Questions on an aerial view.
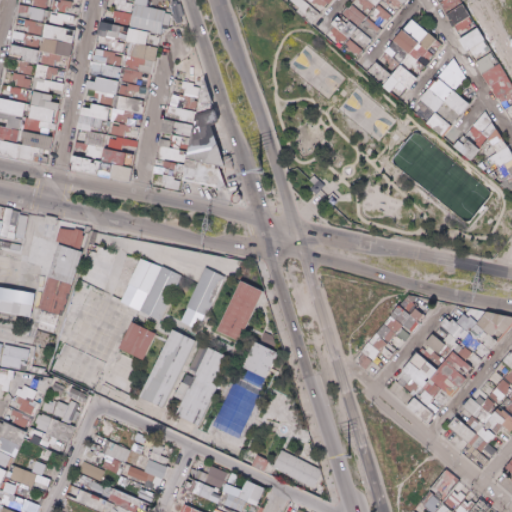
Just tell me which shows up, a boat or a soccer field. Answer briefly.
soccer field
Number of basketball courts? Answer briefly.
2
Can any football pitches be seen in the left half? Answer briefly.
No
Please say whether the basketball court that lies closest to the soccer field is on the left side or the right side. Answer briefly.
right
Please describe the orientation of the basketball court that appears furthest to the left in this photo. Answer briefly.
at an angle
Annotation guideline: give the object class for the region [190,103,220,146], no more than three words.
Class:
building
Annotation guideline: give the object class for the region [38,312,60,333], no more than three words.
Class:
house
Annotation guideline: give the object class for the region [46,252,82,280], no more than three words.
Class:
building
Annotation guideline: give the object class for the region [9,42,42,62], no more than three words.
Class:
house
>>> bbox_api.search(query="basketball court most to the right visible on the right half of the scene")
[340,88,397,140]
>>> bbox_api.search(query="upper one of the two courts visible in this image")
[290,46,346,98]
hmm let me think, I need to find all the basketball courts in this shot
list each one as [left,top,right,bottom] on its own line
[340,88,397,140]
[290,46,346,98]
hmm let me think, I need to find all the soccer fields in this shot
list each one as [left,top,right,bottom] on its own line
[396,136,487,217]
